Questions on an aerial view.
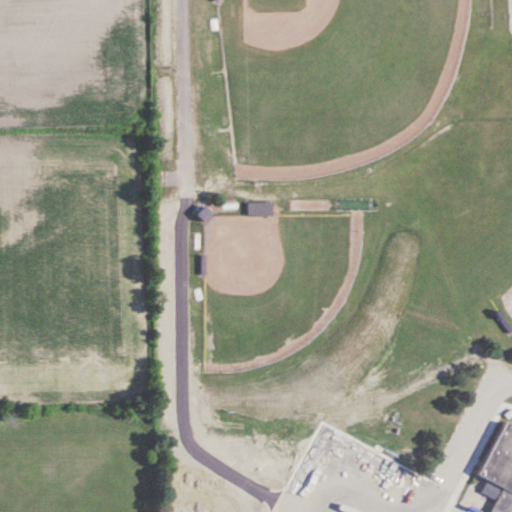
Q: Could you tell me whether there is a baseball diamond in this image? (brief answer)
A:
Yes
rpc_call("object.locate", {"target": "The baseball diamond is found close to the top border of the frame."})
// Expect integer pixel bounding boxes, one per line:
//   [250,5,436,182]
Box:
[224,0,471,182]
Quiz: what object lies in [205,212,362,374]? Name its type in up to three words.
baseball field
